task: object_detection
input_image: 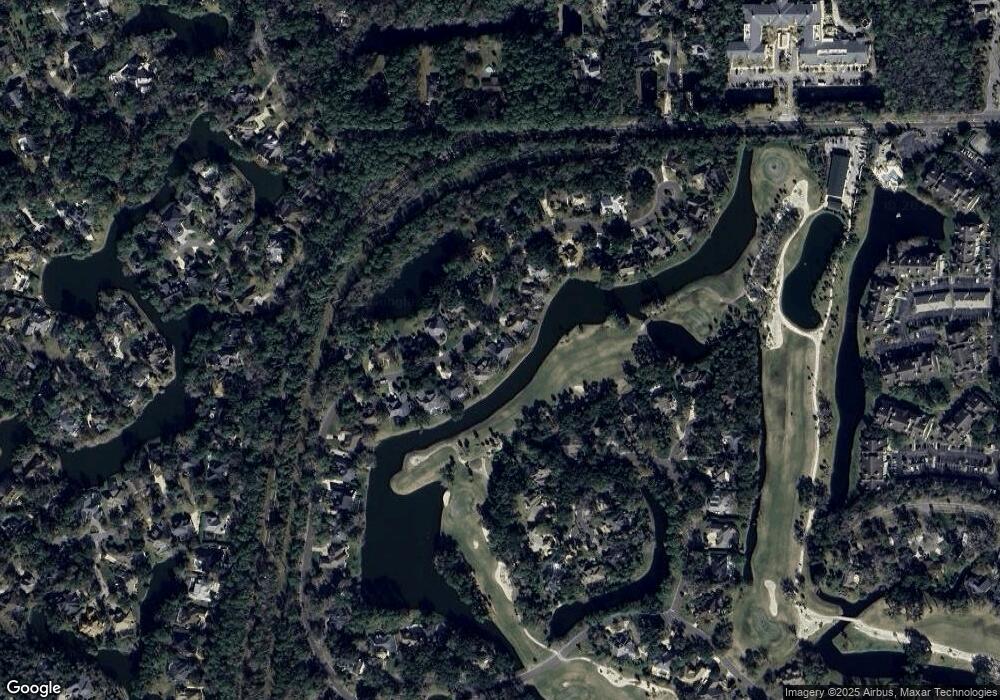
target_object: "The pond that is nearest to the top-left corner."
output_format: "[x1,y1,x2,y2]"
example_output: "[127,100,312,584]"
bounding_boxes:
[124,5,229,57]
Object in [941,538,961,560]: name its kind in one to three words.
house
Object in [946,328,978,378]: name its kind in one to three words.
building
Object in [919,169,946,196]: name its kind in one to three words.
building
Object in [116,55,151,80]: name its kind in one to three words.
house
